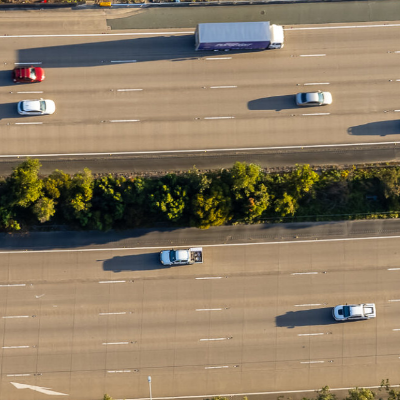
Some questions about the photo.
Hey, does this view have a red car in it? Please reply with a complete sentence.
Yes, a red car can be made out from above.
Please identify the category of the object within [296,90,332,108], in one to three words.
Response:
car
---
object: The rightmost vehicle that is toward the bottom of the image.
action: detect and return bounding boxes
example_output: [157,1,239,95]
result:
[332,304,377,321]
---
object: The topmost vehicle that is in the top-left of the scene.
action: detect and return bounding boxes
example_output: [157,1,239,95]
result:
[12,66,45,83]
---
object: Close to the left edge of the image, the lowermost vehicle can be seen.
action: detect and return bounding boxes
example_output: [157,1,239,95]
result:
[18,99,55,116]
